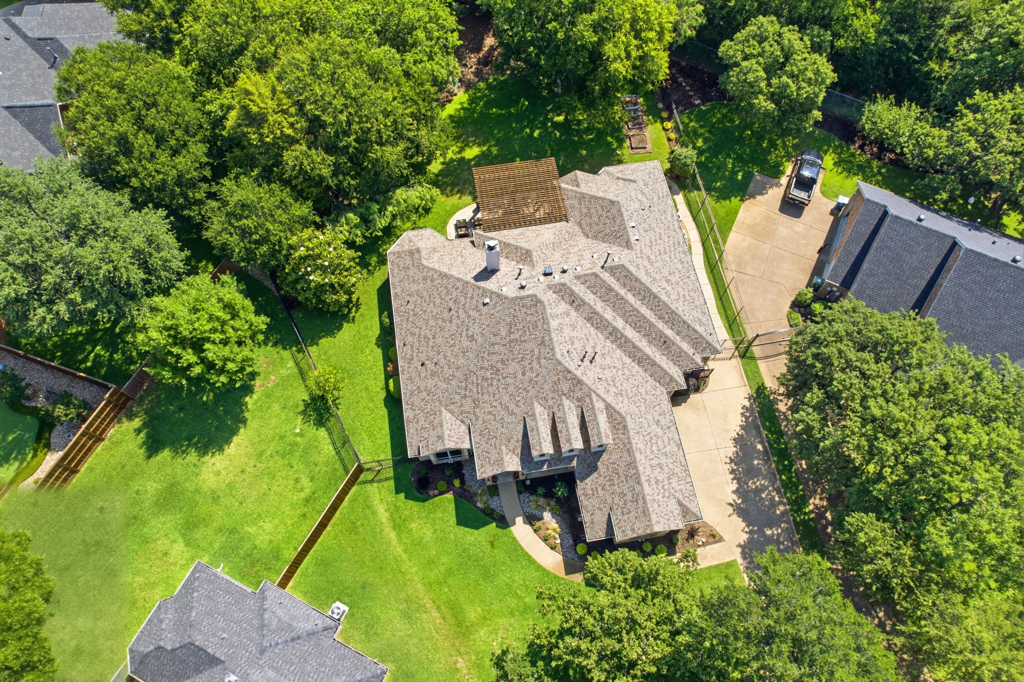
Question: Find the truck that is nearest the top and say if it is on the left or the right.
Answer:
right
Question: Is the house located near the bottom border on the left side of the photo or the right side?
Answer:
left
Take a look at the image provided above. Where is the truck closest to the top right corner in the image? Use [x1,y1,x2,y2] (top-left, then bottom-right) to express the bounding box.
[784,149,825,213]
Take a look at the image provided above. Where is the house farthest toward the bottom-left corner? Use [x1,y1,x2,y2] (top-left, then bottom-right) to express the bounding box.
[124,558,390,682]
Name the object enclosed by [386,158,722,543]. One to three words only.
house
